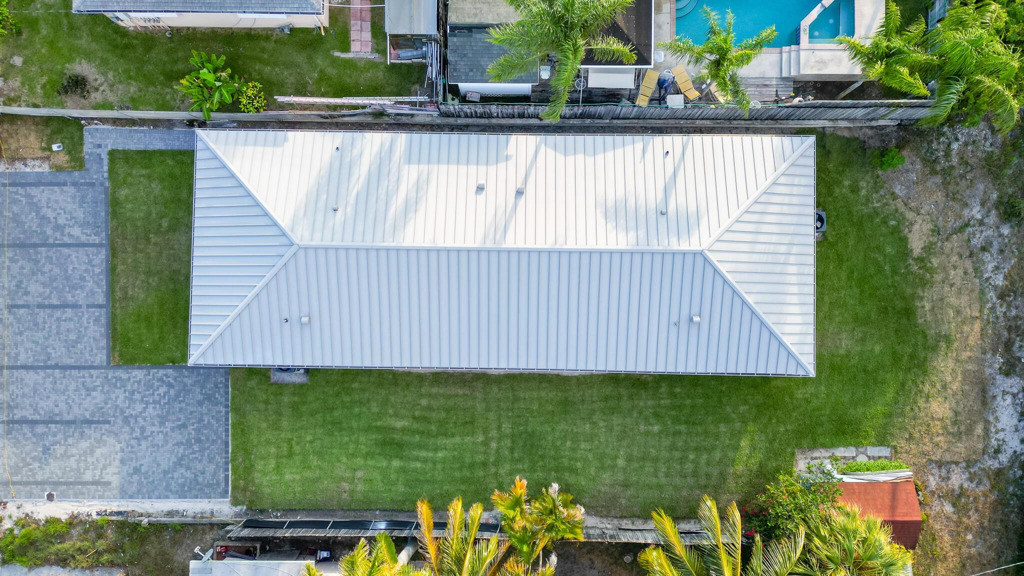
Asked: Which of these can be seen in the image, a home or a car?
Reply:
home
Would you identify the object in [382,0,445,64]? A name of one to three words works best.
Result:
shed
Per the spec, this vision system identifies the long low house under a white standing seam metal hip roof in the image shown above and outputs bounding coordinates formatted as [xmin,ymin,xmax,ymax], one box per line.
[189,129,816,376]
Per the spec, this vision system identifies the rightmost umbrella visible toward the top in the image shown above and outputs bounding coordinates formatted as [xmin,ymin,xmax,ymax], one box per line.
[651,75,675,107]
